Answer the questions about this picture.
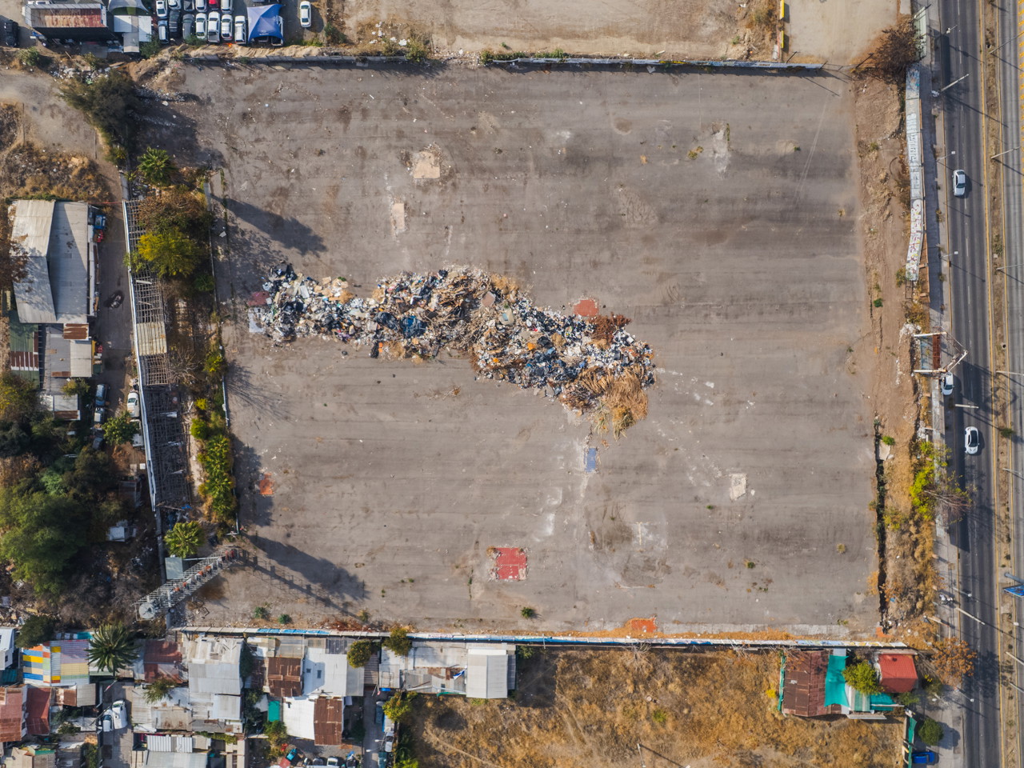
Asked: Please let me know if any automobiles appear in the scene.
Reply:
Yes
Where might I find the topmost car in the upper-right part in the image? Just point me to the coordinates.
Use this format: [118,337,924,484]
[949,168,966,199]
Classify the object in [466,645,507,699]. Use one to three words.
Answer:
building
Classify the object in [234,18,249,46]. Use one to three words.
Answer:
car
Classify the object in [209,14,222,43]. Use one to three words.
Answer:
vehicle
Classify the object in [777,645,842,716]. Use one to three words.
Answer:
house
